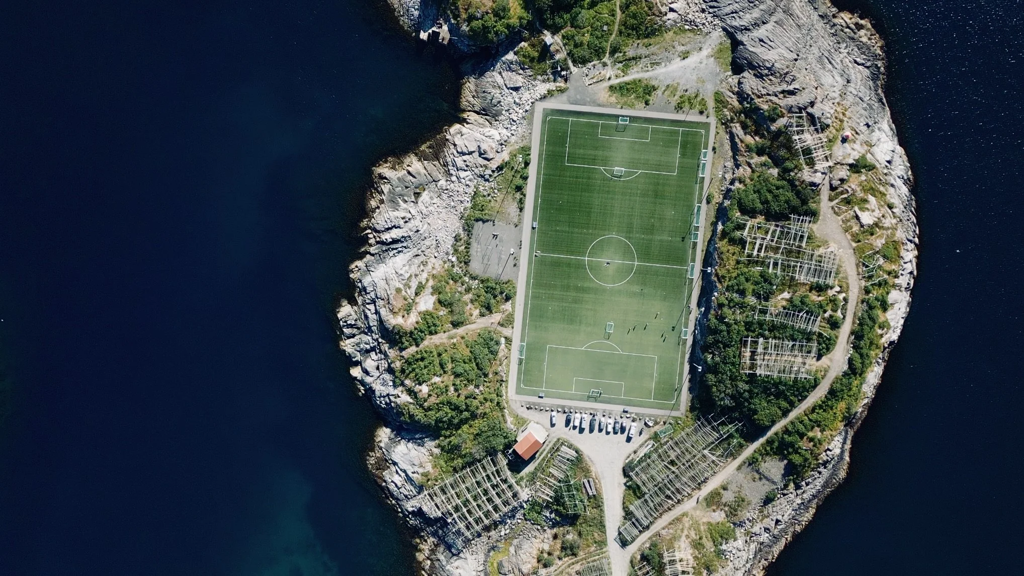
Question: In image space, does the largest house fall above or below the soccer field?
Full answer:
In the image, the largest house sits below the soccer field.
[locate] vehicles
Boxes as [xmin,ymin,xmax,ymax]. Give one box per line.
[630,423,636,437]
[574,413,580,426]
[613,420,619,432]
[590,418,596,430]
[621,420,626,430]
[566,413,572,424]
[599,418,605,429]
[581,414,588,428]
[607,419,613,432]
[551,412,557,424]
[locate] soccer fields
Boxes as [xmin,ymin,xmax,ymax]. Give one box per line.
[510,102,715,416]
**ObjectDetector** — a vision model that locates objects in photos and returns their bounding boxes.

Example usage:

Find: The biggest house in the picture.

[514,431,543,460]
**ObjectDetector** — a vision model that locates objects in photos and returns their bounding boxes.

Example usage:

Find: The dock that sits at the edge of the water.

[420,24,450,45]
